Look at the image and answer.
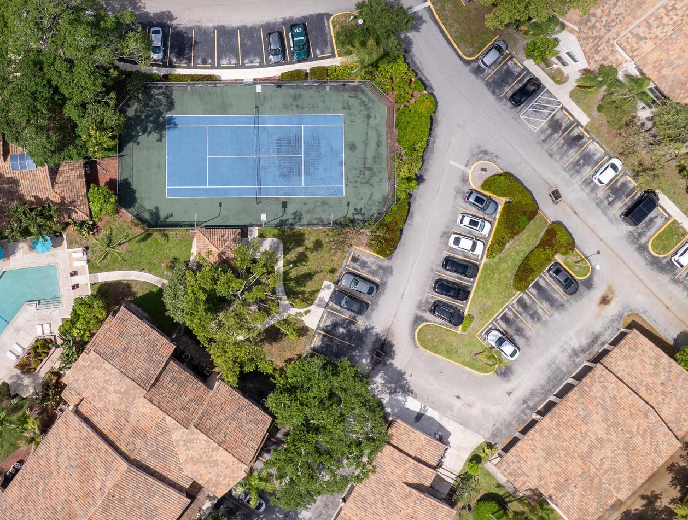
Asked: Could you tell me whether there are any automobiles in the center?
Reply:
Yes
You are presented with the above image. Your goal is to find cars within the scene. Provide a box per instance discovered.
[486,330,521,362]
[331,291,369,316]
[508,76,543,107]
[441,256,479,279]
[428,301,466,326]
[149,25,165,62]
[432,279,470,301]
[232,487,268,515]
[446,233,485,256]
[455,212,492,238]
[462,189,500,216]
[546,262,580,297]
[289,23,308,61]
[670,240,688,268]
[341,273,377,298]
[478,38,510,69]
[591,157,622,187]
[265,27,284,65]
[619,189,658,227]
